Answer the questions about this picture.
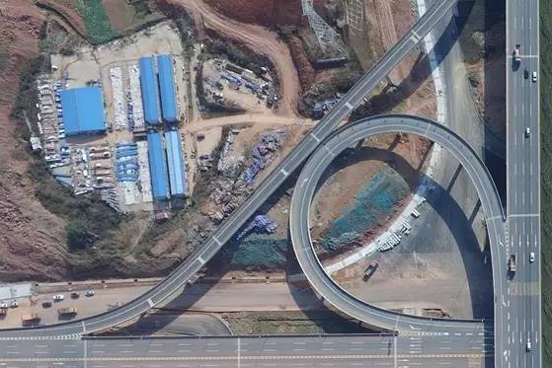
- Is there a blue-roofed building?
Yes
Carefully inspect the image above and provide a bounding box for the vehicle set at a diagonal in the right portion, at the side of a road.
[362,259,377,280]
